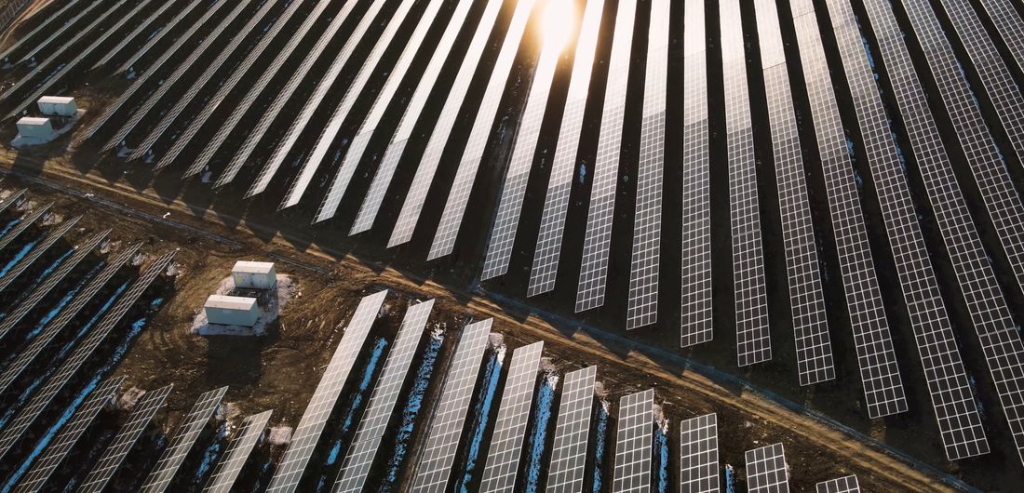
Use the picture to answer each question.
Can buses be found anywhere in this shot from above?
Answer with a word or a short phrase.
No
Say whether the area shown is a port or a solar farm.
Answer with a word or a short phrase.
solar farm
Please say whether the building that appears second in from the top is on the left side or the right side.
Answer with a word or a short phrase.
left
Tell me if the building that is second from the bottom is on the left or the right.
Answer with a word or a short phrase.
left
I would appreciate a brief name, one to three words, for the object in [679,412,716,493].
solar array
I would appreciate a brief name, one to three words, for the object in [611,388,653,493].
solar array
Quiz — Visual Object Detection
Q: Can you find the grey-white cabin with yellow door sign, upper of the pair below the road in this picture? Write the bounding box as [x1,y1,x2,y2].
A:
[229,260,277,288]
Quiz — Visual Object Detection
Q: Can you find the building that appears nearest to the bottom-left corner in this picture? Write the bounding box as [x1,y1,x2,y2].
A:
[201,292,261,323]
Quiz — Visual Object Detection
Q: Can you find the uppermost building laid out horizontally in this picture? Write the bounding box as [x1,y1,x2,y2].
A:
[36,95,79,116]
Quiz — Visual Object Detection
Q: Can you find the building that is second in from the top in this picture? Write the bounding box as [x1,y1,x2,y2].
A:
[12,116,55,138]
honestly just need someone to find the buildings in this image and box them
[36,95,79,116]
[229,260,277,288]
[201,292,261,323]
[12,116,55,138]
